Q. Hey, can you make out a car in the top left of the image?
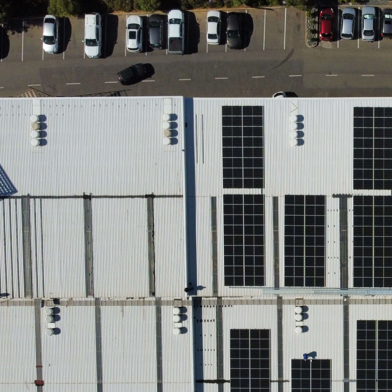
Yes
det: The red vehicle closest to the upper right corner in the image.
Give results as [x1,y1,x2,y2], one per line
[317,6,335,44]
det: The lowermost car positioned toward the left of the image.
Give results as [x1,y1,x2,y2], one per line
[115,62,157,87]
